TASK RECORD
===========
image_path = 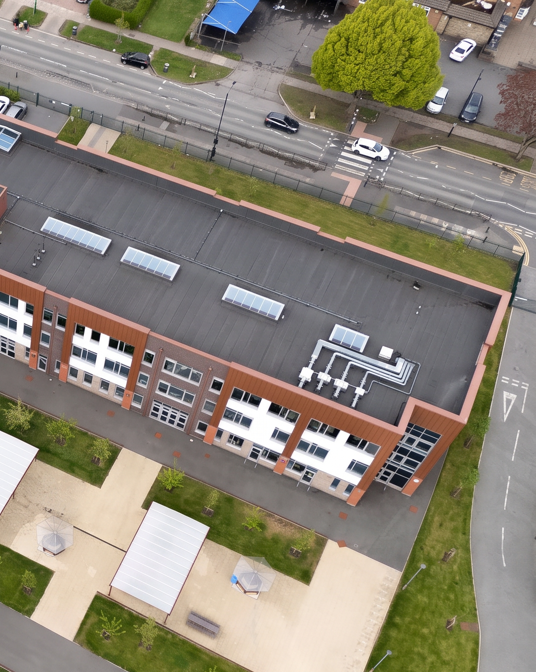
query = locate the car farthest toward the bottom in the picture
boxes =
[353,138,390,162]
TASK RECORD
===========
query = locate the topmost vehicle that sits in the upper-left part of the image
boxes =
[120,49,151,69]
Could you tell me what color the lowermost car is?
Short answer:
white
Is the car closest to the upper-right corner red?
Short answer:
No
